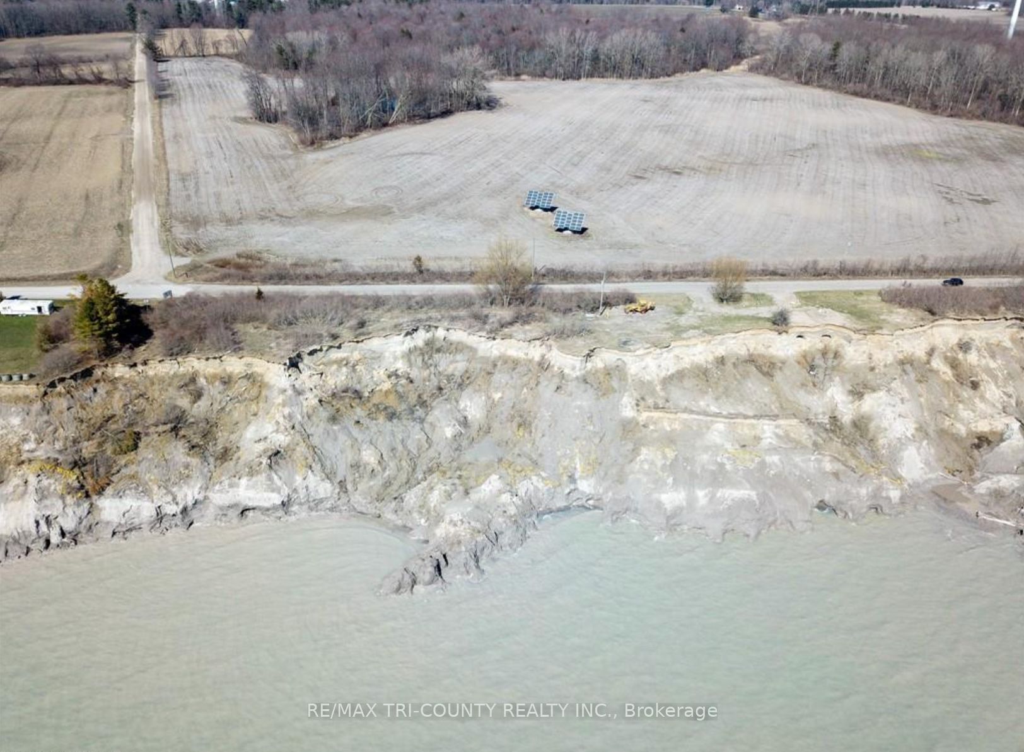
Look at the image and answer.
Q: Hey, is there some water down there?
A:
Yes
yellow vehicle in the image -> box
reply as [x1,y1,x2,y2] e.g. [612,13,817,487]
[624,298,659,314]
